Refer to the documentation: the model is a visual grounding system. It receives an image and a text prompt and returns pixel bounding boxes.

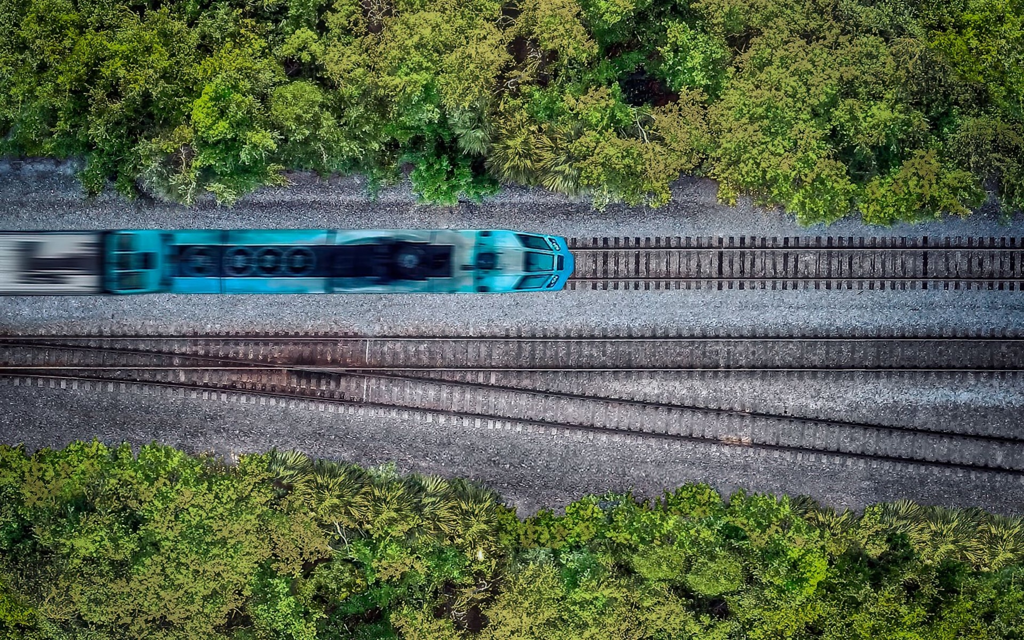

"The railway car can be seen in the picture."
[103,231,574,294]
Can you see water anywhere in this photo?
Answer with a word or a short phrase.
No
